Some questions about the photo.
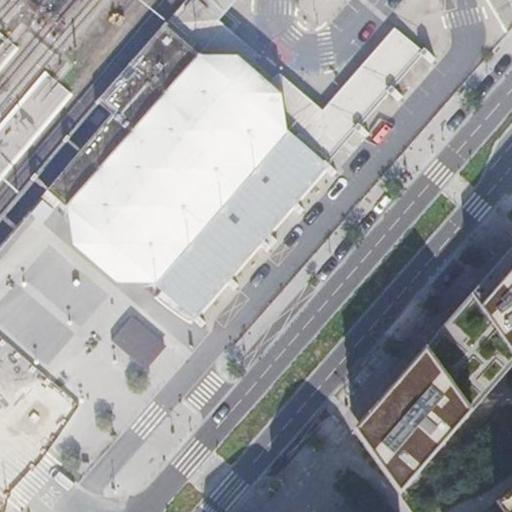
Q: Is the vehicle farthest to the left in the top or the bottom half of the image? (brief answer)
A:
bottom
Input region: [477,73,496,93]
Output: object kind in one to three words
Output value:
car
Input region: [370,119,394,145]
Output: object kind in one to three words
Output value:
vehicle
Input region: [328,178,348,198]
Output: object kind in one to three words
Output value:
car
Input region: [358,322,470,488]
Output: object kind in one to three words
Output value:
building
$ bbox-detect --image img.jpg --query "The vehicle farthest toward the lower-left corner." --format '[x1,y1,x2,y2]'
[55,472,75,492]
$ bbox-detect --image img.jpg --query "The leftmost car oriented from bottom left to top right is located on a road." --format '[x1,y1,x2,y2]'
[212,402,230,422]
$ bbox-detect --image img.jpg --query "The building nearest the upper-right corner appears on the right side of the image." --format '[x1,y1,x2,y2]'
[282,26,422,162]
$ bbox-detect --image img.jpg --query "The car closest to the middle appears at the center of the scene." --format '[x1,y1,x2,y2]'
[252,265,270,285]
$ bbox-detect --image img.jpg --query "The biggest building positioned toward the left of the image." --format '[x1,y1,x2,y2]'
[66,52,330,324]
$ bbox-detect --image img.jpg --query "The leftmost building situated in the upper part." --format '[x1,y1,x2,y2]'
[48,23,196,203]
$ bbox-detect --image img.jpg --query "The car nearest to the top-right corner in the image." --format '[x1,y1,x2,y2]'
[492,54,512,76]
